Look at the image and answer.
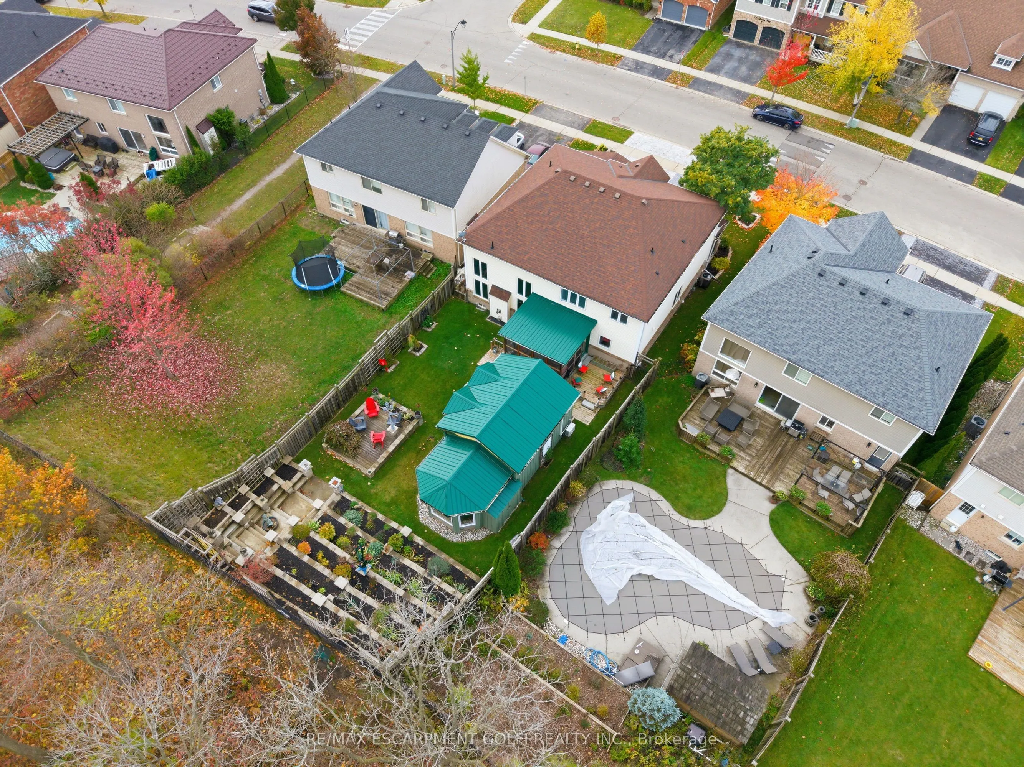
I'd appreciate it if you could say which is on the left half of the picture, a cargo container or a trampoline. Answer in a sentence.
There is a trampoline on the left half of the picture.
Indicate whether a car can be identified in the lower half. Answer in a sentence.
No, no car is visible in the lower half.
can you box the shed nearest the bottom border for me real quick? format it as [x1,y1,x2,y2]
[665,642,769,743]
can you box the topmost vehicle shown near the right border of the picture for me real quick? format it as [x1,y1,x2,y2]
[965,109,997,146]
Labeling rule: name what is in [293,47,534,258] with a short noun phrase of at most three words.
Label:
house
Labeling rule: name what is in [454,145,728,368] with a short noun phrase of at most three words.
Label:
house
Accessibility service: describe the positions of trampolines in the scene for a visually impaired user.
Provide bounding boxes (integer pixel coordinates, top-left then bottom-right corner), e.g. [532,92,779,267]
[286,237,345,300]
